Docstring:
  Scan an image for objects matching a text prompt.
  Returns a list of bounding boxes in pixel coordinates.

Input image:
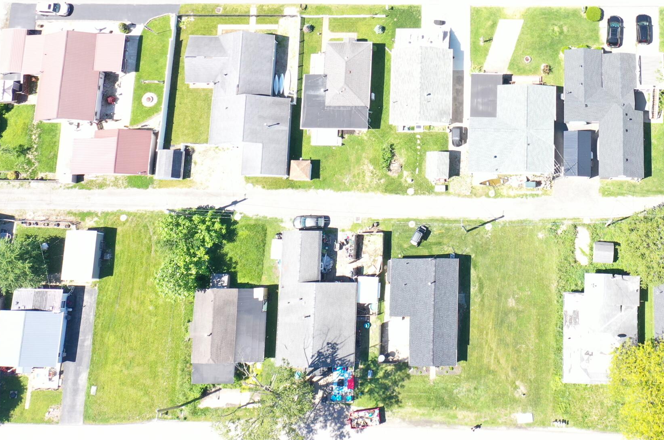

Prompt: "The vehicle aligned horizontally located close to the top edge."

[33,0,71,17]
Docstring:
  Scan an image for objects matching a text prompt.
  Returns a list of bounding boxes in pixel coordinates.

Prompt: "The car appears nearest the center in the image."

[291,214,329,231]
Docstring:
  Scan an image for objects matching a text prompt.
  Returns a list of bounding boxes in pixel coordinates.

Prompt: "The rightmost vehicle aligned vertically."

[635,12,652,47]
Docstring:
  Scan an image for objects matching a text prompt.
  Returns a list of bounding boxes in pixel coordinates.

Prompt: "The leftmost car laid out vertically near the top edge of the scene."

[606,14,623,50]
